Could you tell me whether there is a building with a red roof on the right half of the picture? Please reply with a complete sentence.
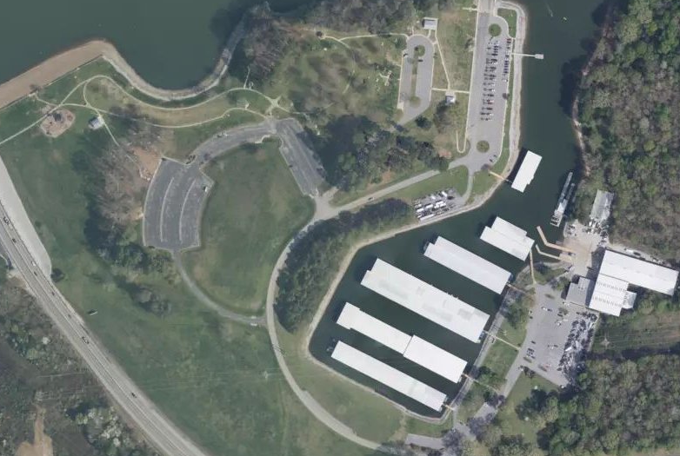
No, looking on the right half of the picture, there is no building with a red roof.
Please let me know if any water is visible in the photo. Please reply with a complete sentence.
Yes, the picture does contain water.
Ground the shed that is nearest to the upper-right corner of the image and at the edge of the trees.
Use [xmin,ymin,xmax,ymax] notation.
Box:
[591,190,614,223]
